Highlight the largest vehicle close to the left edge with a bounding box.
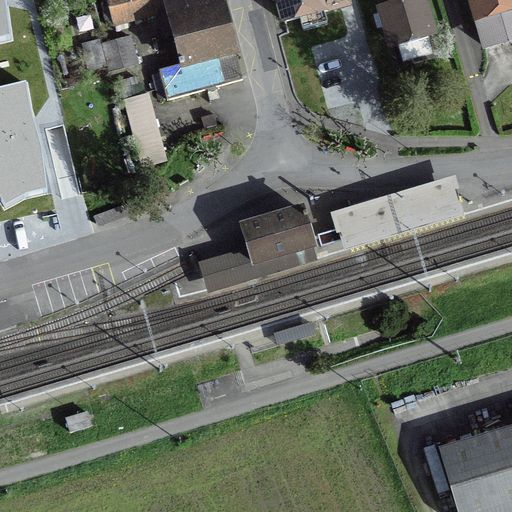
[13,221,29,250]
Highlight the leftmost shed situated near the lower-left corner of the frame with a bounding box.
[65,411,94,433]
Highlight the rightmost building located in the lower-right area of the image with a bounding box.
[438,424,512,512]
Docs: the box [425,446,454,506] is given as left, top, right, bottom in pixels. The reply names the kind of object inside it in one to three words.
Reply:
truck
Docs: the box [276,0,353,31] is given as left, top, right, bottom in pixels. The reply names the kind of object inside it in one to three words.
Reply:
house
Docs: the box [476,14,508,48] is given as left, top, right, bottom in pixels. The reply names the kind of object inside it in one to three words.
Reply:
building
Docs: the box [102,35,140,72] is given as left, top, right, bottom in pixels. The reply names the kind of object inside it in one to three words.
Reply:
shed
